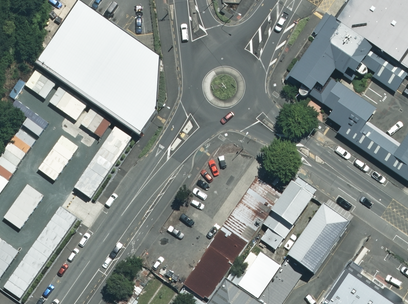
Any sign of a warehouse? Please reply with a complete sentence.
Yes, there is a warehouse in the image.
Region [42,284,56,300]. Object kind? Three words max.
vehicle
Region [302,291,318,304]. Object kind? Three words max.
vehicle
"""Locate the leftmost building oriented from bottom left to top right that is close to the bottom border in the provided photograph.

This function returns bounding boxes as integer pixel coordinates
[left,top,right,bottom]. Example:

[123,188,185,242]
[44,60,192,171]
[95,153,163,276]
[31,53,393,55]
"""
[4,208,78,299]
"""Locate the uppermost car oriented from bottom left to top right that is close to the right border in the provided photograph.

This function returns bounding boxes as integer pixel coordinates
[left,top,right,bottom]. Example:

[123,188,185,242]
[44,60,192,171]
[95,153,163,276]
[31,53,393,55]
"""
[387,122,404,136]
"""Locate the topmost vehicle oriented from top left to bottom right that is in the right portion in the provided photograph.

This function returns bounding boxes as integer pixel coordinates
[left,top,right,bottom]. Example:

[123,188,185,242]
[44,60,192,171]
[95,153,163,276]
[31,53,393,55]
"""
[335,146,352,160]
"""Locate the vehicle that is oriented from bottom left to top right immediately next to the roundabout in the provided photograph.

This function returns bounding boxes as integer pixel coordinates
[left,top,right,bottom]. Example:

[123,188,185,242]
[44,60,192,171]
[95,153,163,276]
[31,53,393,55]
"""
[219,110,236,125]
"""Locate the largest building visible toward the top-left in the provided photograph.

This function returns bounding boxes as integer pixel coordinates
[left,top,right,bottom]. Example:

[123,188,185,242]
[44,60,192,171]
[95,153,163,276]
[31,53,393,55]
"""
[38,0,159,136]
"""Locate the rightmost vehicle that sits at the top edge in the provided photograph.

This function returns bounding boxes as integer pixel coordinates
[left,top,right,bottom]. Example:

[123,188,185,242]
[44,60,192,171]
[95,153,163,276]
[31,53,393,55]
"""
[274,13,289,32]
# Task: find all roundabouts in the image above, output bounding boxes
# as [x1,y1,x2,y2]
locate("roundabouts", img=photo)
[202,66,246,110]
